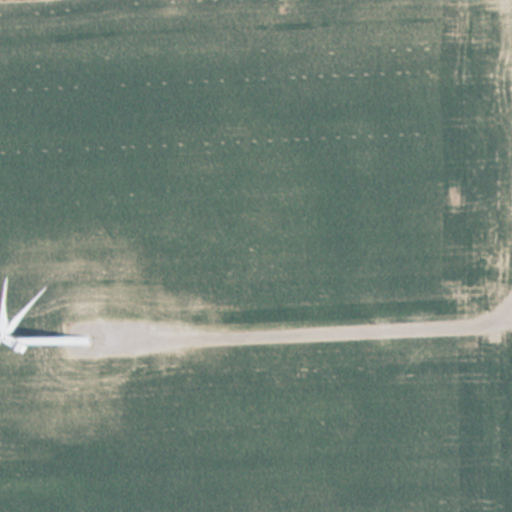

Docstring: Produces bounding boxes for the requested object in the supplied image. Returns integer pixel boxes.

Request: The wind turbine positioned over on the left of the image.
[0,278,94,354]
